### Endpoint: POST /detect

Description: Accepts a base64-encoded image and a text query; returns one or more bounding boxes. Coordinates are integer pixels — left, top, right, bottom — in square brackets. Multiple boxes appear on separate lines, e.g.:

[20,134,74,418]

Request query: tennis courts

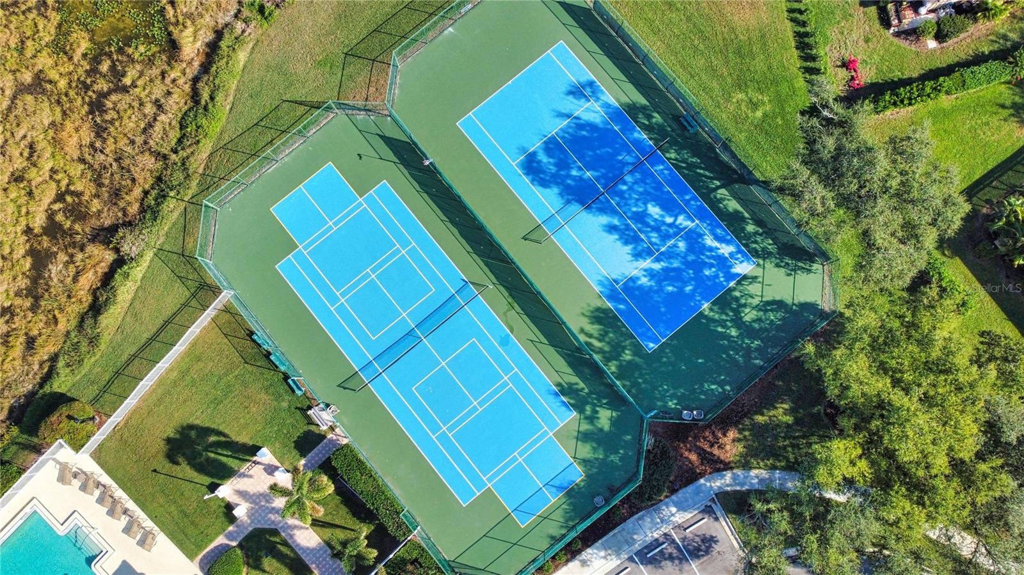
[212,113,641,575]
[390,0,823,420]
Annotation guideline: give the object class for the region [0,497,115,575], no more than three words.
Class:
swimming pool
